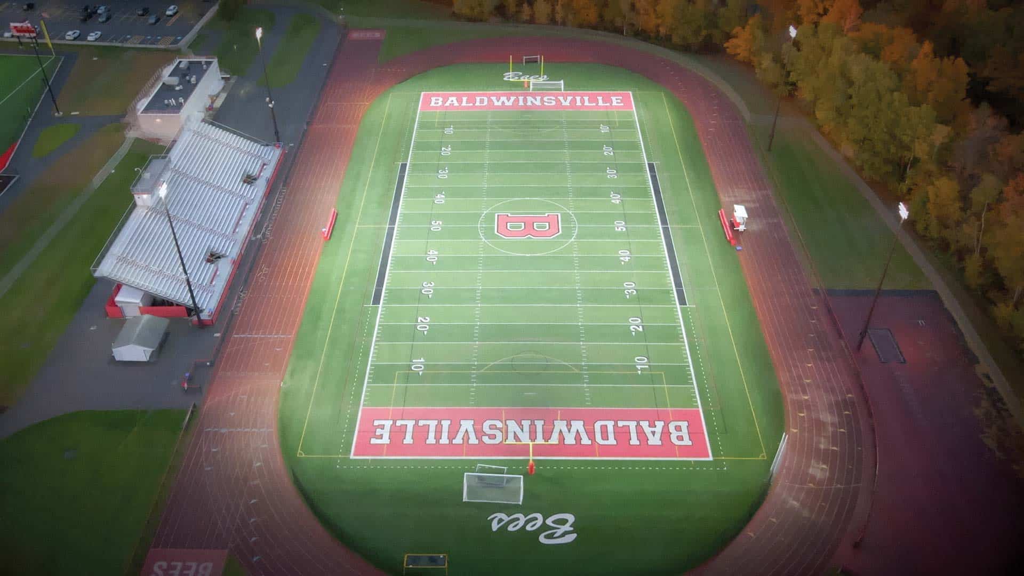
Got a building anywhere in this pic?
Yes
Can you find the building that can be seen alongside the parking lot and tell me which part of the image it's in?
top left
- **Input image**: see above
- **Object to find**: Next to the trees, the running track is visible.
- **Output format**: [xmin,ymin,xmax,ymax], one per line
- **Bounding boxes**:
[193,36,875,576]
